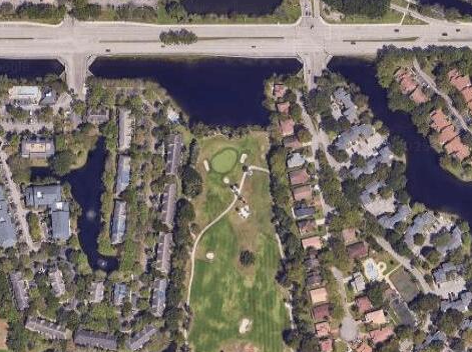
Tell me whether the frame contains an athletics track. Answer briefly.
No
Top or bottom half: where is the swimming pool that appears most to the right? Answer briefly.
bottom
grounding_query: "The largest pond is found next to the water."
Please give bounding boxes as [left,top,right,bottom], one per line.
[31,137,118,273]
